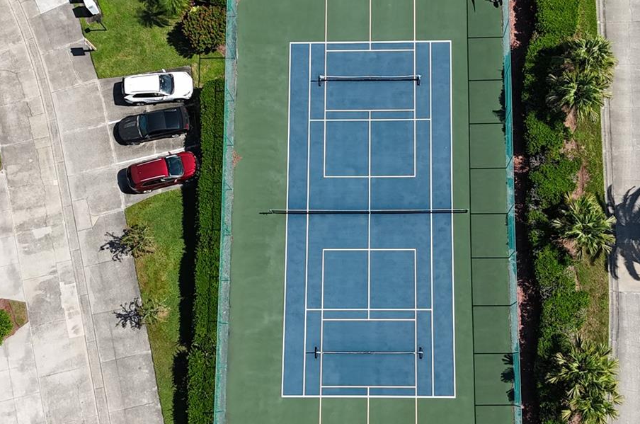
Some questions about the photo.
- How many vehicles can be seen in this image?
3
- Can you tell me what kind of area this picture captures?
sports ground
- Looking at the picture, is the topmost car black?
No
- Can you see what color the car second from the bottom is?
black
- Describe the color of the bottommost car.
red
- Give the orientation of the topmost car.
from side to side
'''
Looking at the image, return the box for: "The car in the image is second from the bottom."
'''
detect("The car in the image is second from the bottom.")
[117,105,192,146]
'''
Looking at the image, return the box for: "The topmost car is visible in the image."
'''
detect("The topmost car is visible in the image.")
[123,70,192,106]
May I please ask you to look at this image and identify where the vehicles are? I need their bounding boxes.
[123,70,192,106]
[126,151,198,192]
[117,105,192,146]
